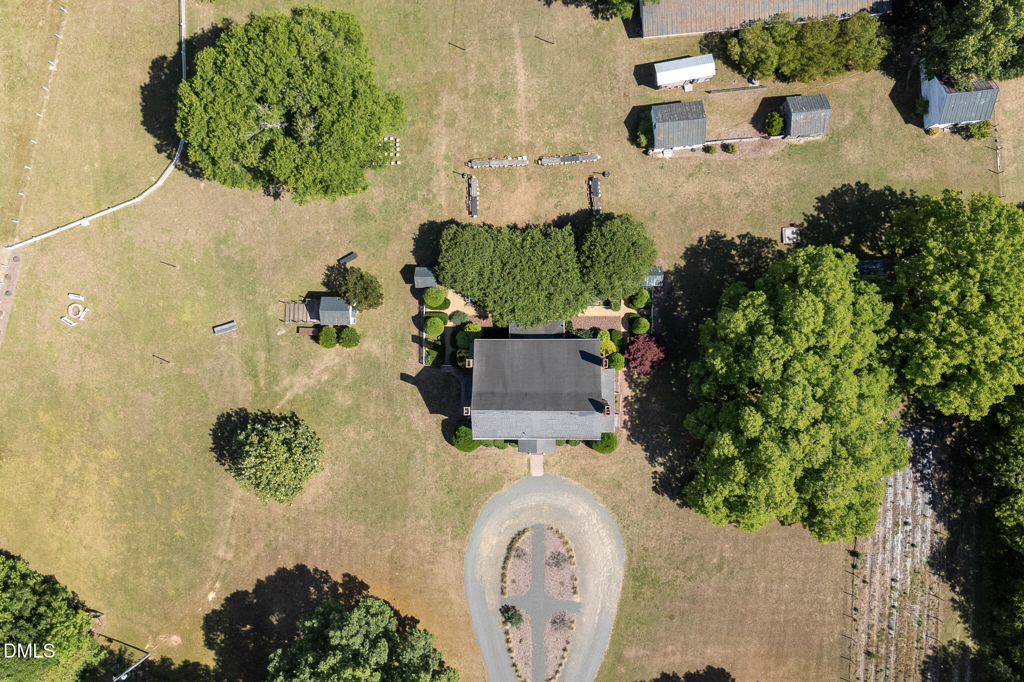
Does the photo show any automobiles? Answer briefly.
No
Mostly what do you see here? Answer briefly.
grass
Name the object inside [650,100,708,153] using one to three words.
shed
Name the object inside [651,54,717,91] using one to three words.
shed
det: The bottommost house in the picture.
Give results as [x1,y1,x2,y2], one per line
[464,321,616,458]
